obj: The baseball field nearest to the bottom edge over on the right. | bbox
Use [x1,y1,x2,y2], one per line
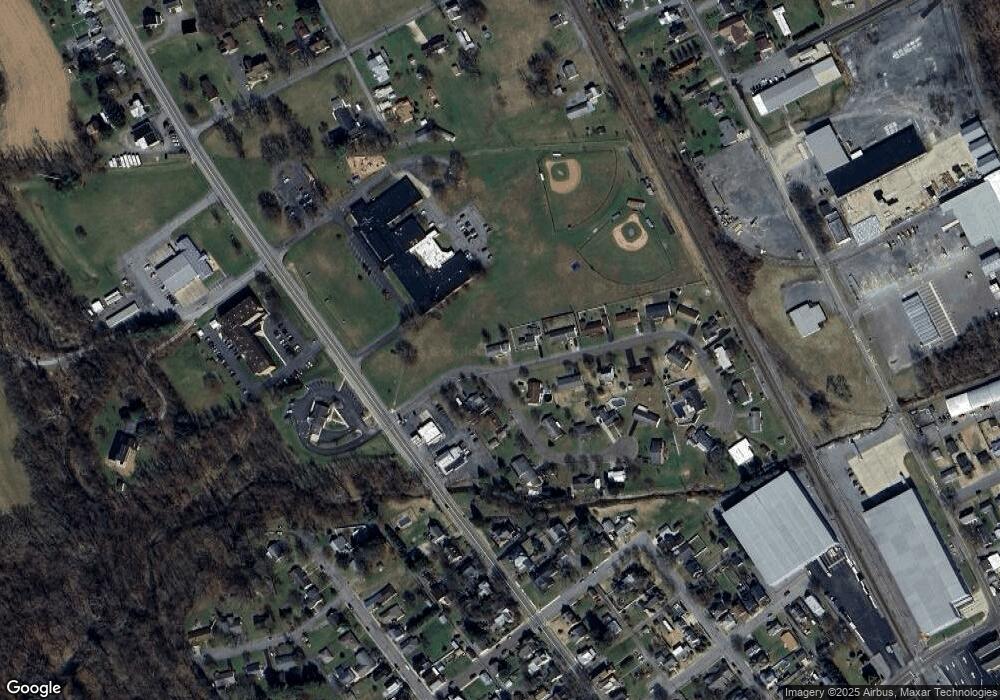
[613,213,648,250]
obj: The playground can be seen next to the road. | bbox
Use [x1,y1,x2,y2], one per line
[347,155,387,179]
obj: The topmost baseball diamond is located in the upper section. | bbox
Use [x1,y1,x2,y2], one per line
[545,159,581,193]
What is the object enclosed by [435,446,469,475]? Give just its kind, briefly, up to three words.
building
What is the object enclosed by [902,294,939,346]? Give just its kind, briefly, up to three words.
shed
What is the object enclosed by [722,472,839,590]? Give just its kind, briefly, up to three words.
warehouse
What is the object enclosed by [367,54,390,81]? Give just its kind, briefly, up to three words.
house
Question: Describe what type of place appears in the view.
residential area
